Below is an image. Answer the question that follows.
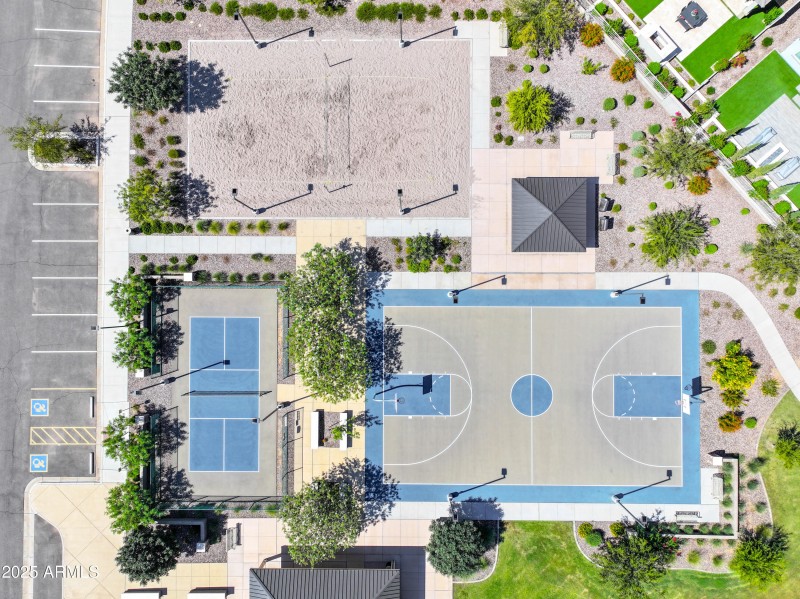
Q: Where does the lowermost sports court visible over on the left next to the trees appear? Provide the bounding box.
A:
[172,288,277,497]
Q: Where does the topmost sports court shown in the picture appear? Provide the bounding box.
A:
[188,39,472,219]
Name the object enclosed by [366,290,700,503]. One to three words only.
basketball court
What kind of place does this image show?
sports ground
